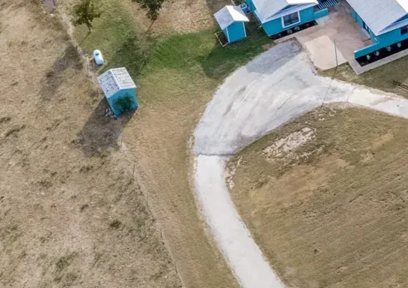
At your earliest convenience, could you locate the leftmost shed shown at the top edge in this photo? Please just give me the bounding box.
[216,8,248,43]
